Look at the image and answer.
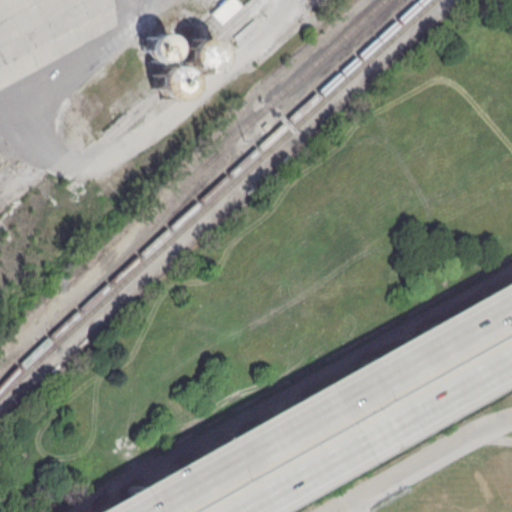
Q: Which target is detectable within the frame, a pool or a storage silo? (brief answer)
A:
storage silo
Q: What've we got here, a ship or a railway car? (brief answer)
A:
railway car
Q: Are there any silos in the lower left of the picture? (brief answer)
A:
No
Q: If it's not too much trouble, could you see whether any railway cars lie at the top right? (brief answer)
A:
Yes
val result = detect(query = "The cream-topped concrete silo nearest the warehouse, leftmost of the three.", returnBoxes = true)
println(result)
[140,33,188,68]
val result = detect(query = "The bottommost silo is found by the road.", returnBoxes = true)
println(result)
[152,66,204,102]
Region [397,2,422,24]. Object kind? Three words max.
rail car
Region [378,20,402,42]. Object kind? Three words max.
rail car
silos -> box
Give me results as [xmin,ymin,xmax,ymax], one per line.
[152,66,204,102]
[183,38,234,74]
[140,33,188,68]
